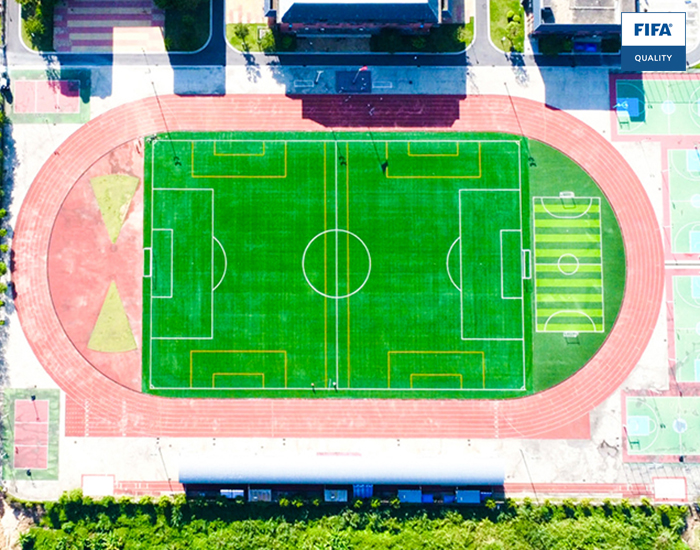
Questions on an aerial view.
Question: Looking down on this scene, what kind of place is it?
sports ground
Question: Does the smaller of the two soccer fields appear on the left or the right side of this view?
right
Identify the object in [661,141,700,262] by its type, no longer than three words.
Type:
basketball court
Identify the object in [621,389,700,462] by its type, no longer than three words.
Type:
basketball court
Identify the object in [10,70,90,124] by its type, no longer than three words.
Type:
sports court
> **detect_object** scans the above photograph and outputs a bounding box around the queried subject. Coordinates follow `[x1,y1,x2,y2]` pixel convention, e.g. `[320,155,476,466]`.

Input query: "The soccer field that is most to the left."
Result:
[142,132,528,398]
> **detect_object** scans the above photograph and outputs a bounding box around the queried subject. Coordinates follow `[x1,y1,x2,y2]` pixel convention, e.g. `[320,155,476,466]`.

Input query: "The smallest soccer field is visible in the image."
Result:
[532,197,605,333]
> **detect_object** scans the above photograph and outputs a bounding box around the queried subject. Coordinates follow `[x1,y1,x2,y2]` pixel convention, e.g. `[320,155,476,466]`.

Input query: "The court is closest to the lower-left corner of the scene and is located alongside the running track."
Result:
[1,389,61,480]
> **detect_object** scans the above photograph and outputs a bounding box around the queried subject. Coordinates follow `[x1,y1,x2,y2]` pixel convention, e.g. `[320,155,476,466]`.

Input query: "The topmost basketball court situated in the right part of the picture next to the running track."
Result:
[610,72,700,141]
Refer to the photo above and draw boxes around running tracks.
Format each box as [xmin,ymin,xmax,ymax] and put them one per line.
[10,95,664,437]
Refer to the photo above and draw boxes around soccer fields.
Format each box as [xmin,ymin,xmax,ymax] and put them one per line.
[532,197,605,333]
[142,132,528,398]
